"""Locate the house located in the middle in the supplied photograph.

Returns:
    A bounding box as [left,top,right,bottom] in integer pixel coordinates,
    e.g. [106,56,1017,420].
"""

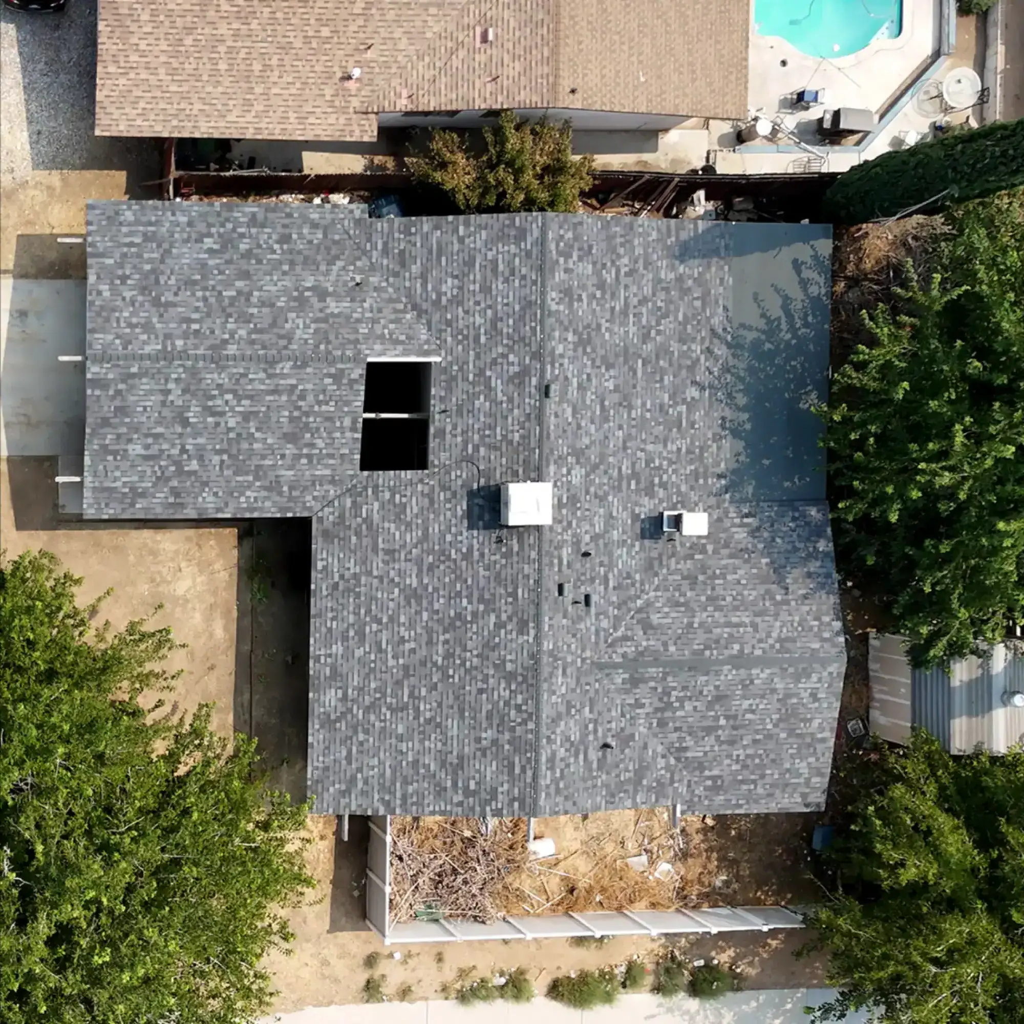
[57,201,848,845]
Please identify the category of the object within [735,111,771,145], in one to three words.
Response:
storage tank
